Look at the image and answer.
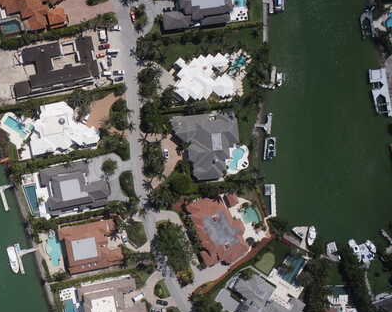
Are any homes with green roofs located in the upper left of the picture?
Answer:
No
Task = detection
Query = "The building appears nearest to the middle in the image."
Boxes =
[170,113,240,181]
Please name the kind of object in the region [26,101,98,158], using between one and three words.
house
